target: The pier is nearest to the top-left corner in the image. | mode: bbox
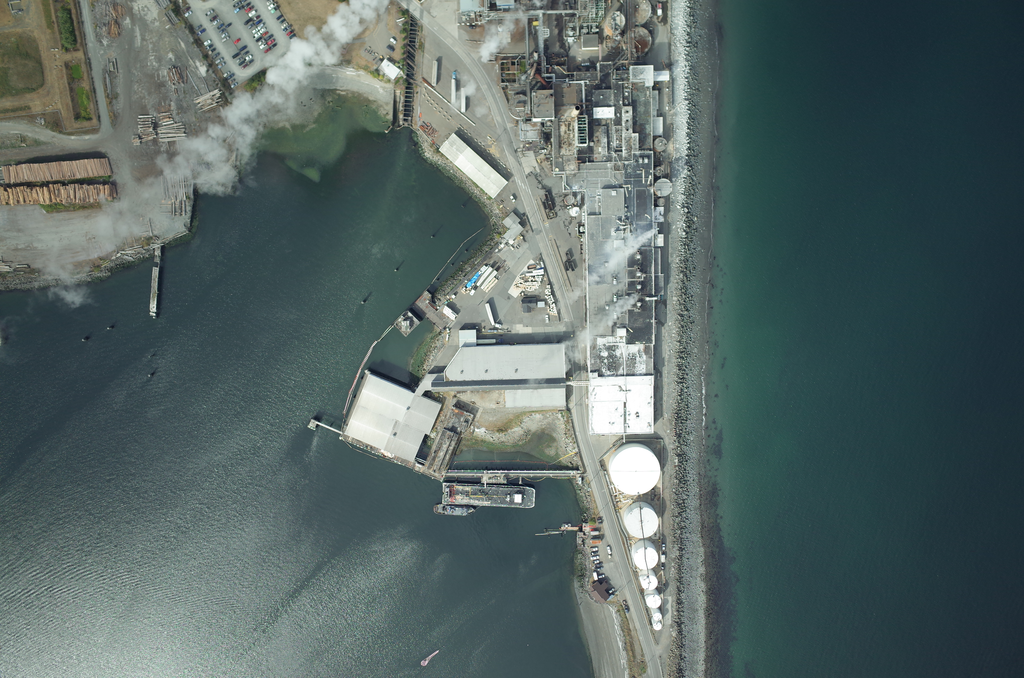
[149,246,162,312]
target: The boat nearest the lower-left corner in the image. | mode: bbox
[434,503,474,516]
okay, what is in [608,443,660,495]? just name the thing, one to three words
storage tank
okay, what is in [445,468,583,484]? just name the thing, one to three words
pier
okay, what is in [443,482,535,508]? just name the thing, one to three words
ship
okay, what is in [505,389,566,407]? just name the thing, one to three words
building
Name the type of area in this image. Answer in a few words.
port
